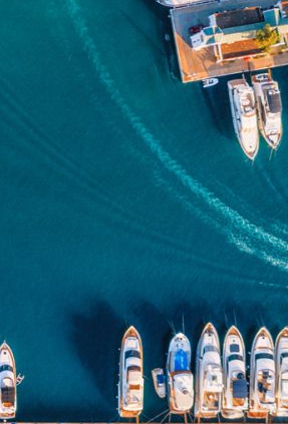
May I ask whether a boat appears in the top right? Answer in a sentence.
Yes, you'll find a boat in the top right.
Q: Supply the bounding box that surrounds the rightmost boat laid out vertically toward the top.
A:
[250,69,282,158]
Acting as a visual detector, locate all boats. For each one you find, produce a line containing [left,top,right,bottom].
[157,0,212,11]
[16,374,24,385]
[251,74,266,82]
[273,313,288,416]
[249,314,276,424]
[250,69,282,158]
[153,367,165,398]
[195,309,223,424]
[226,74,258,160]
[118,312,145,424]
[221,312,250,424]
[151,320,195,424]
[0,331,18,424]
[202,79,218,87]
